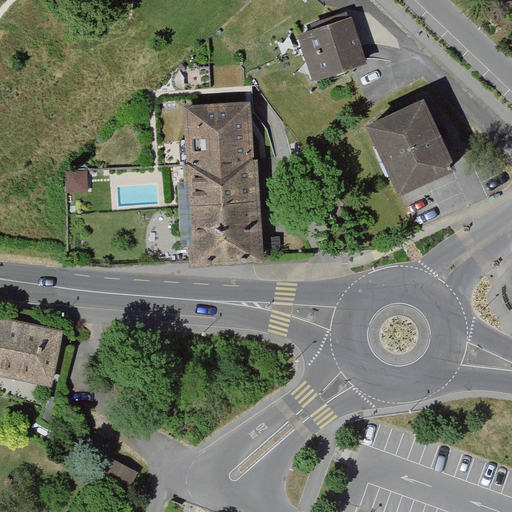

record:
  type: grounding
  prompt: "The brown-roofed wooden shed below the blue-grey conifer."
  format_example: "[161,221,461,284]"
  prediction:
[106,460,138,486]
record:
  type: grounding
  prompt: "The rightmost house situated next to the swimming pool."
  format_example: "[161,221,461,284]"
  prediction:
[178,102,264,268]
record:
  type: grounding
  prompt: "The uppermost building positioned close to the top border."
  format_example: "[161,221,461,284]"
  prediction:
[298,11,366,80]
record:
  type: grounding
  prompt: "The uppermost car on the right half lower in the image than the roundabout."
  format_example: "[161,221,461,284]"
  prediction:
[362,423,374,445]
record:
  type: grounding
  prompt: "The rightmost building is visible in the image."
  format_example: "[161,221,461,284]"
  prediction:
[366,98,456,196]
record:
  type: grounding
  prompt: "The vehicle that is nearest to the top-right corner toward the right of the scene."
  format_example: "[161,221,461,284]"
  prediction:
[361,69,382,84]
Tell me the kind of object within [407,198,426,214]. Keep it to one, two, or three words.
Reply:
car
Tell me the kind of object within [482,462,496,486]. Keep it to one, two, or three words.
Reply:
car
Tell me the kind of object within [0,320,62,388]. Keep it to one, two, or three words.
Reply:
house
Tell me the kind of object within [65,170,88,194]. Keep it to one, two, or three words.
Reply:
building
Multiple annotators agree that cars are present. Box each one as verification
[460,454,472,473]
[416,208,439,224]
[486,173,510,190]
[361,69,382,84]
[196,306,216,316]
[38,277,56,287]
[482,462,496,486]
[434,446,449,472]
[495,466,508,486]
[362,423,374,445]
[407,198,426,214]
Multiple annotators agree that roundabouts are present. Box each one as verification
[328,264,470,405]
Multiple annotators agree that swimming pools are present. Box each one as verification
[110,170,164,210]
